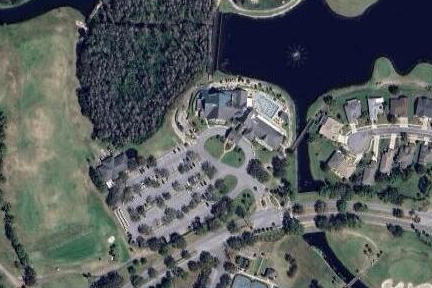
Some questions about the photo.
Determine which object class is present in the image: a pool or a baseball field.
pool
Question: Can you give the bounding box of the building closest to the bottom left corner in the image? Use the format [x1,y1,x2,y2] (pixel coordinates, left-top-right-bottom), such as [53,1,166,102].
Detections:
[100,157,132,186]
